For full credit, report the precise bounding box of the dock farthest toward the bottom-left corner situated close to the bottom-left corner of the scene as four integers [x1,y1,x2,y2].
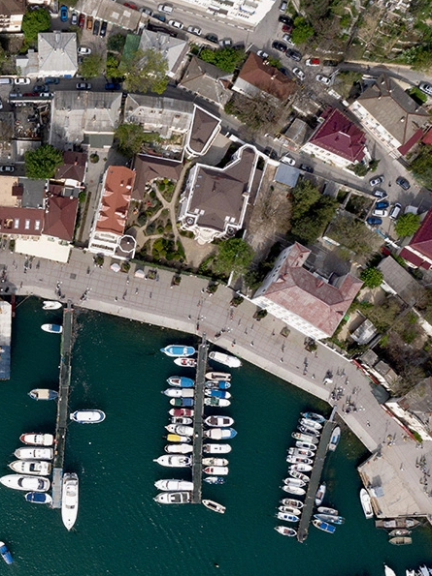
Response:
[51,469,64,509]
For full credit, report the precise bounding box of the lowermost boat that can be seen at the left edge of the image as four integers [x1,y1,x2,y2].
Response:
[0,544,15,567]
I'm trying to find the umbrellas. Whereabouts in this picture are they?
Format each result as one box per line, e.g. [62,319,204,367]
[112,262,122,272]
[137,268,147,278]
